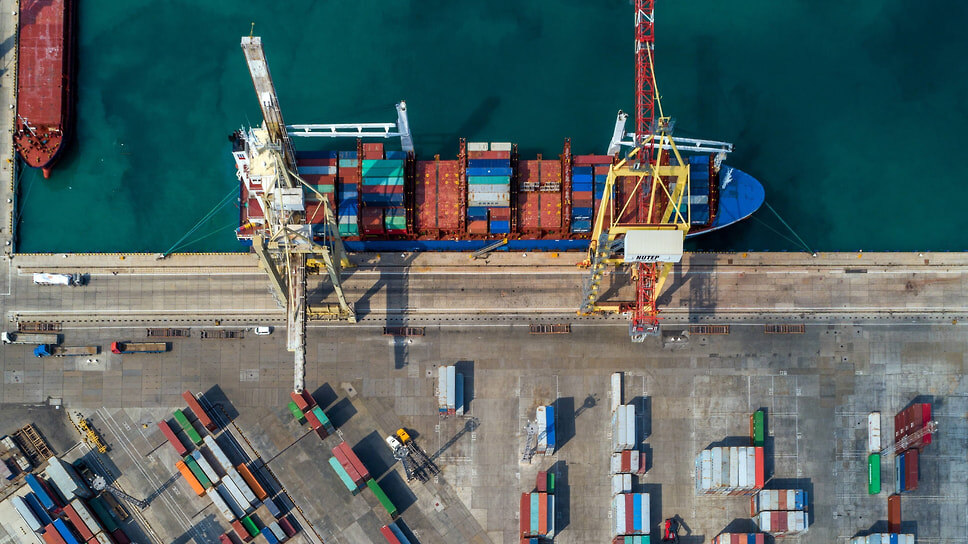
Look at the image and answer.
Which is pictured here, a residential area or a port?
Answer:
port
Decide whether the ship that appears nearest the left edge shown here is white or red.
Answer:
red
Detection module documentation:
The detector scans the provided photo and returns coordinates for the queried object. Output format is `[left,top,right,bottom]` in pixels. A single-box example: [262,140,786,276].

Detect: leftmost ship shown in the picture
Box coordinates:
[11,0,76,179]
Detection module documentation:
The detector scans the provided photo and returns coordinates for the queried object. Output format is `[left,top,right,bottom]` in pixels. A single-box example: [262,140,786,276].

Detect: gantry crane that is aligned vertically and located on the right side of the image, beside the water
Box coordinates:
[567,0,693,353]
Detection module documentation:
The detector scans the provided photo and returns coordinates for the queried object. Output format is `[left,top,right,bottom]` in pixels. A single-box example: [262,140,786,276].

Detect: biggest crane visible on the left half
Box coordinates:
[234,22,360,395]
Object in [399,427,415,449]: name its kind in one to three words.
work vehicle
